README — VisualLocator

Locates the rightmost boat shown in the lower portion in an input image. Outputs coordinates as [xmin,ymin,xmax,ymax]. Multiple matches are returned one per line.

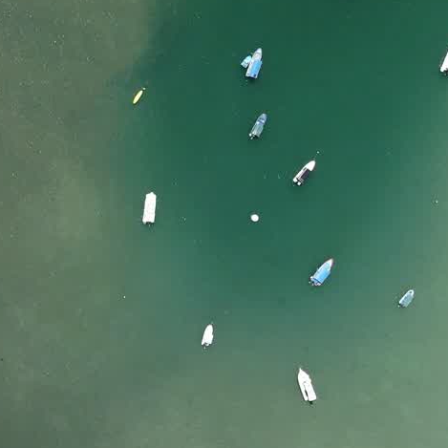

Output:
[398,290,413,309]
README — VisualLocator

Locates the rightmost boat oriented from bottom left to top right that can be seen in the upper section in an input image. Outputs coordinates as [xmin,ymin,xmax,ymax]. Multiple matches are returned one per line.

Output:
[293,161,314,186]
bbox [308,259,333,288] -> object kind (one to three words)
boat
